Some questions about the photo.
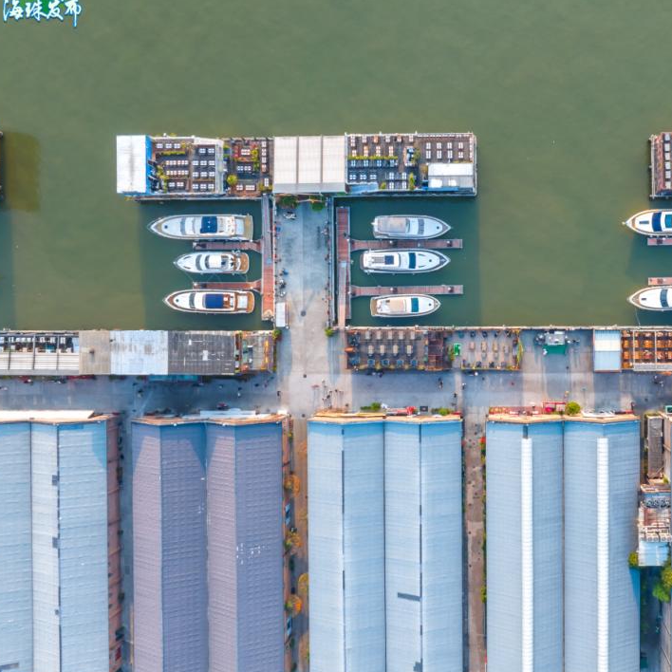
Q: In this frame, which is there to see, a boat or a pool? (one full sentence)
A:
The image shows a boat.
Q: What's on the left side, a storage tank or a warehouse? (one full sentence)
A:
Looking on the left side, you will find a warehouse.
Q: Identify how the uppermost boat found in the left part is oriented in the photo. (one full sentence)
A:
I'd say the uppermost boat found in the left part is aligned horizontally in the picture.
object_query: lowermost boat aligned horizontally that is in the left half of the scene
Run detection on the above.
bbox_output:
[164,288,259,314]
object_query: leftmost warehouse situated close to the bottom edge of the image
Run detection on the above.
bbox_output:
[0,418,123,672]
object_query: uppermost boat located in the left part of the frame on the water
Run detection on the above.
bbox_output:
[151,214,257,241]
